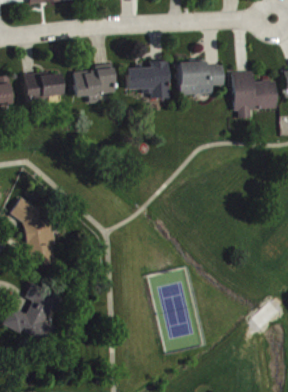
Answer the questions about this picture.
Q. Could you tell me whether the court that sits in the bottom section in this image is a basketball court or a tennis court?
tennis court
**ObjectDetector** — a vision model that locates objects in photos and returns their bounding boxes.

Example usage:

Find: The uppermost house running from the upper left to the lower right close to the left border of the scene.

[5,194,55,263]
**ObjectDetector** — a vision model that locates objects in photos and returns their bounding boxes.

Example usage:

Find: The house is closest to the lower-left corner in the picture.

[0,289,50,336]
